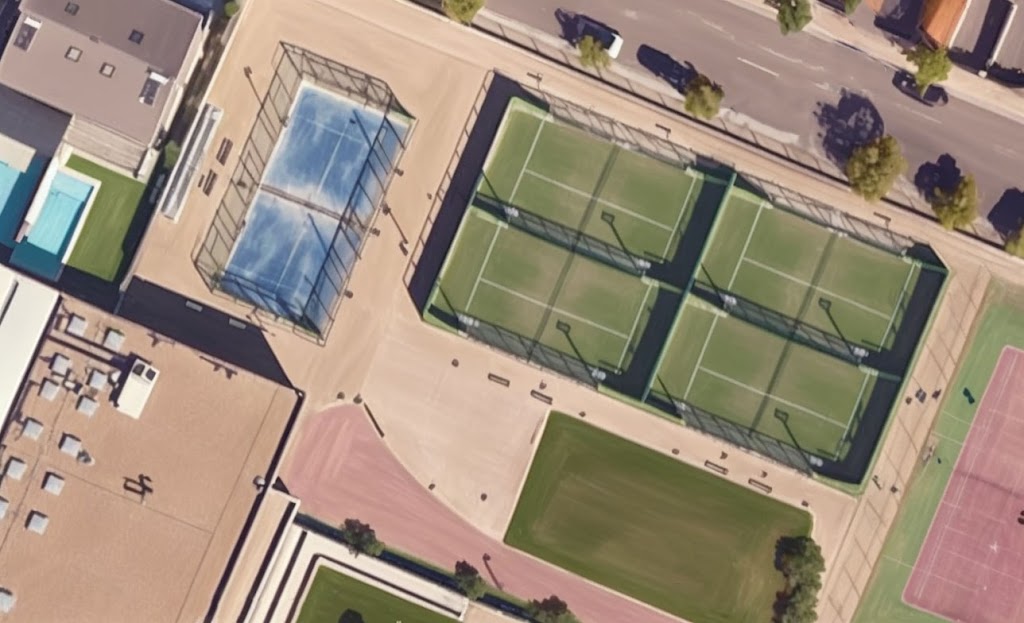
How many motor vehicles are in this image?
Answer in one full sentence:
In total, 3 motor vehicles can be seen.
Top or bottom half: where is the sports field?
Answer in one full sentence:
Seen from above, the sports field lies in the bottom half of the view.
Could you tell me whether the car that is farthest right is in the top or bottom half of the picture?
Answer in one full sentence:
The top half of the photo is where the car that is farthest right is.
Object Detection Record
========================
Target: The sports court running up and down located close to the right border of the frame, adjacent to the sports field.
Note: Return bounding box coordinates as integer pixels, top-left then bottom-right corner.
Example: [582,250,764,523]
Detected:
[855,286,1024,623]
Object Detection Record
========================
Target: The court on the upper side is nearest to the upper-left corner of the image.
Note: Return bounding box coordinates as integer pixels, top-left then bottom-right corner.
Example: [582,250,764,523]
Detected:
[209,79,413,336]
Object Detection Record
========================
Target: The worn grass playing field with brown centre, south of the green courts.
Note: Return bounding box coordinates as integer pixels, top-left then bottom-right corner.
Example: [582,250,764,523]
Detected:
[501,408,815,623]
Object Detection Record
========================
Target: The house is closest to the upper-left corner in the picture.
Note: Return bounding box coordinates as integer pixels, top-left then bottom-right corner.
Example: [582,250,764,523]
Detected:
[0,0,204,155]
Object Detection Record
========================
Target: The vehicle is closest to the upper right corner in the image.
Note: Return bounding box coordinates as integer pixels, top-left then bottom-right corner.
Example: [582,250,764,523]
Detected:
[893,74,948,110]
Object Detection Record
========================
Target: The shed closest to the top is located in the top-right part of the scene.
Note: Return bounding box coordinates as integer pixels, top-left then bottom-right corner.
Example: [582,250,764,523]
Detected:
[921,0,964,50]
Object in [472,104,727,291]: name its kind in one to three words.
sports court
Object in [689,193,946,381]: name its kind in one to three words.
sports court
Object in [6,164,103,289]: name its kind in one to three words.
swimming pool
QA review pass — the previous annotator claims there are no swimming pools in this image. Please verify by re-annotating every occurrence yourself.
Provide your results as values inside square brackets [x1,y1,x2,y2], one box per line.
[0,154,47,249]
[6,164,103,289]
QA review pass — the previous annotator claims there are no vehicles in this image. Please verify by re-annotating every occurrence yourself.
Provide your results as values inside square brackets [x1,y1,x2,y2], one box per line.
[635,48,693,89]
[893,74,948,110]
[570,18,626,57]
